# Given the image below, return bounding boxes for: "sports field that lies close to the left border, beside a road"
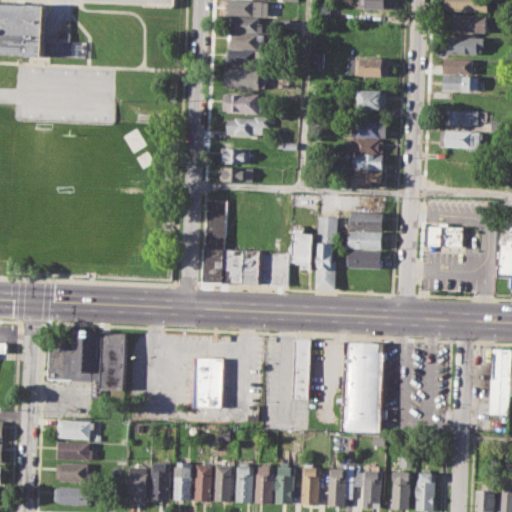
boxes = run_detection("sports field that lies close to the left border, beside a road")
[0,122,170,280]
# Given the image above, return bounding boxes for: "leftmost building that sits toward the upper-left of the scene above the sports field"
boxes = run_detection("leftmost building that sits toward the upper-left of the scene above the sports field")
[0,4,42,58]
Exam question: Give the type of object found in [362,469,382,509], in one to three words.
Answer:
house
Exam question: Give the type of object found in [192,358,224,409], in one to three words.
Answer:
building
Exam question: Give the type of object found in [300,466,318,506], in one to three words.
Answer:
house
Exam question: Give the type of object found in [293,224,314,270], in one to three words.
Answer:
building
